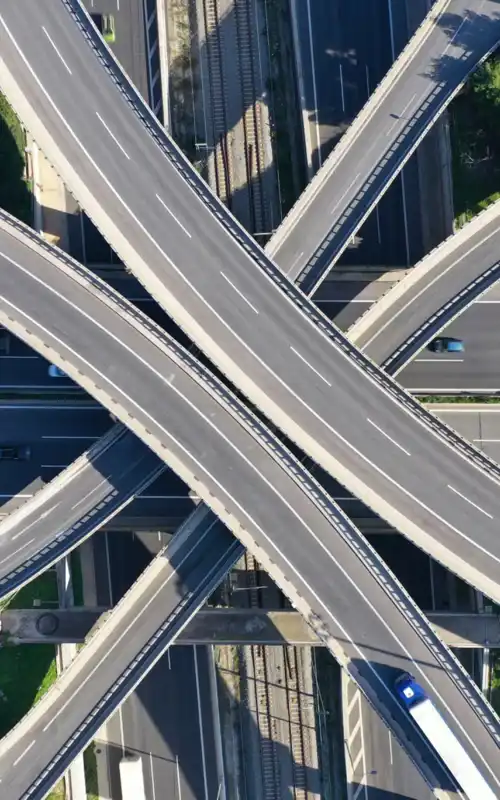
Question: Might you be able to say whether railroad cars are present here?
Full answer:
No, the picture doesn't show any railroad car.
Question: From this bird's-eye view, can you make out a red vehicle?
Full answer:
No, no red vehicle is visible in the scene.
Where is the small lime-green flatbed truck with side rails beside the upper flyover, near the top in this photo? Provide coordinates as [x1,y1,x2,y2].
[99,7,116,43]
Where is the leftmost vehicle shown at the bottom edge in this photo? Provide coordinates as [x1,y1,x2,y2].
[120,755,147,800]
